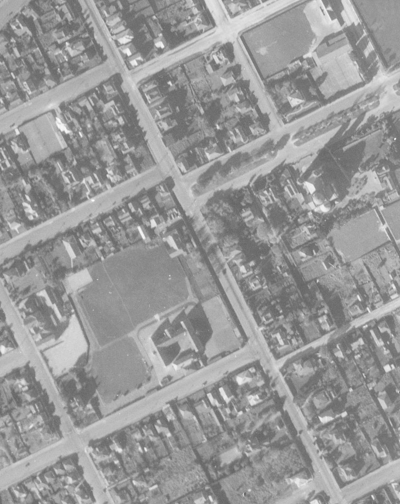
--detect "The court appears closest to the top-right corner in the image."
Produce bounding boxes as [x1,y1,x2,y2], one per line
[319,43,354,98]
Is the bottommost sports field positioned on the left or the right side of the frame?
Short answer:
left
